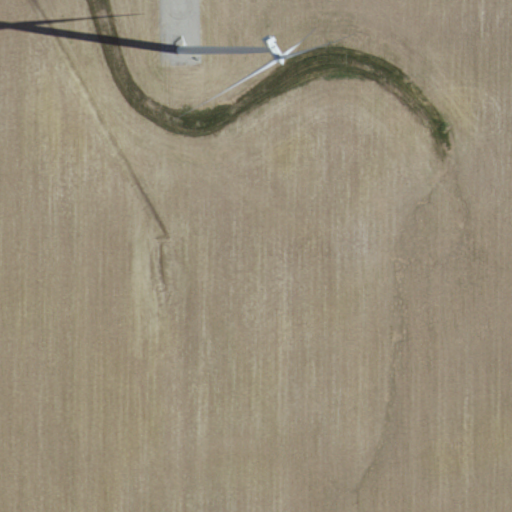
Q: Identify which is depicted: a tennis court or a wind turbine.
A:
wind turbine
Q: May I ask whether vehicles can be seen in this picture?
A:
No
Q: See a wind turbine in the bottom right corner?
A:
No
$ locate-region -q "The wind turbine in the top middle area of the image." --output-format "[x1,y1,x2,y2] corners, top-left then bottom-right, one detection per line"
[176,30,345,108]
